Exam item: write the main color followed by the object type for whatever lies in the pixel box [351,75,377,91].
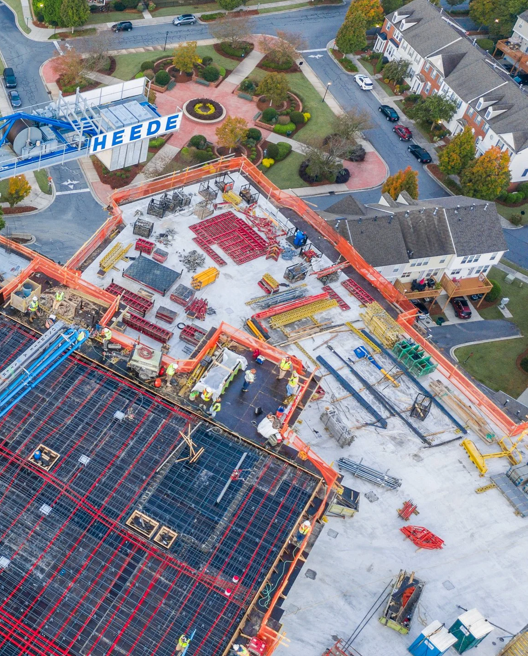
white car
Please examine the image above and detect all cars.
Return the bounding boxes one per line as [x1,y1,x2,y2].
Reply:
[9,91,22,102]
[111,21,134,34]
[351,75,377,91]
[375,106,403,122]
[388,124,417,143]
[447,293,477,322]
[405,146,434,164]
[400,298,436,325]
[4,68,16,86]
[173,15,197,28]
